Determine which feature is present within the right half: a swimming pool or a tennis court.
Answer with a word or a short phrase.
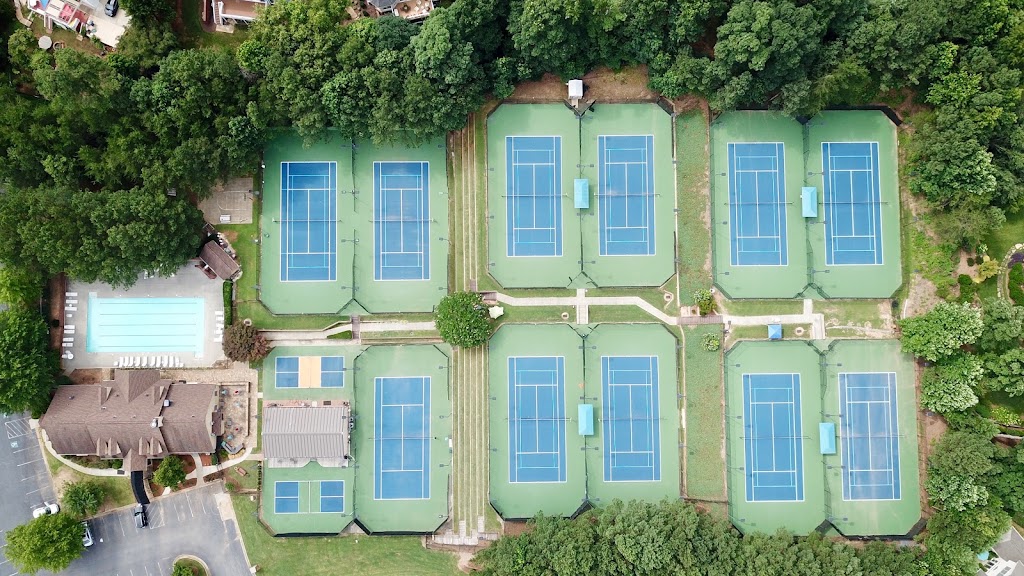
tennis court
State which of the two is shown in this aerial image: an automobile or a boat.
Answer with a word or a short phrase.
automobile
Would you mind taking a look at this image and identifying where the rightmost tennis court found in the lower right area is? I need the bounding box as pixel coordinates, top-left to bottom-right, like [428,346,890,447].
[822,340,921,533]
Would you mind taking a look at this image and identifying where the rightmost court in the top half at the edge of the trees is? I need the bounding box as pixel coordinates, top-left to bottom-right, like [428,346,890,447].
[805,109,903,297]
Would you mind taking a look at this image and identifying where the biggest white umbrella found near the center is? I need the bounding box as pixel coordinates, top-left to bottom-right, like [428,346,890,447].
[490,306,503,319]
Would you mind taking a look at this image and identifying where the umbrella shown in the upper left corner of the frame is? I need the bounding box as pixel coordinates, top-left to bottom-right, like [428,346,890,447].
[39,35,53,50]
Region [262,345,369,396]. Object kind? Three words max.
sports court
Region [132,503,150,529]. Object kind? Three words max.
car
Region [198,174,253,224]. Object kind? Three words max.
basketball court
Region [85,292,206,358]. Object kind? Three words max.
swimming pool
